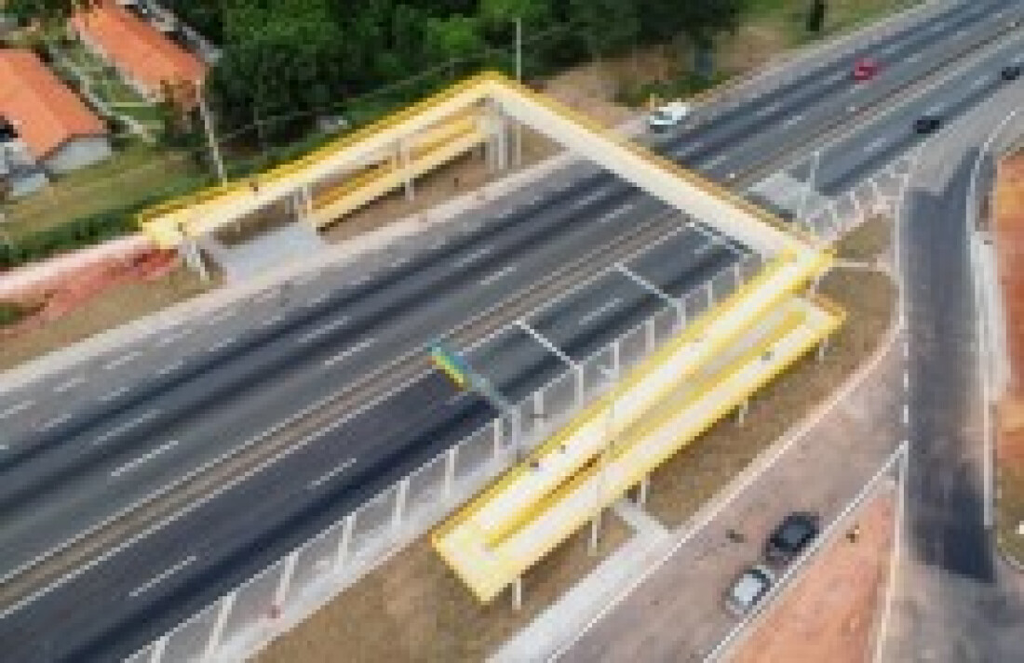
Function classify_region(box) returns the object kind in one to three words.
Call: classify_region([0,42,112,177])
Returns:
house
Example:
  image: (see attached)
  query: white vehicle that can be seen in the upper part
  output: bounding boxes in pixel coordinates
[647,96,687,126]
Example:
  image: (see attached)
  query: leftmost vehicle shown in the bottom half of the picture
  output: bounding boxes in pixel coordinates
[714,554,775,612]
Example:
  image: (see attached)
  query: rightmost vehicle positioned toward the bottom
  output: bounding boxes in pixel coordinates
[758,507,819,564]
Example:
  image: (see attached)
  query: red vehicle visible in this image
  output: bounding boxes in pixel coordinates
[850,57,878,77]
